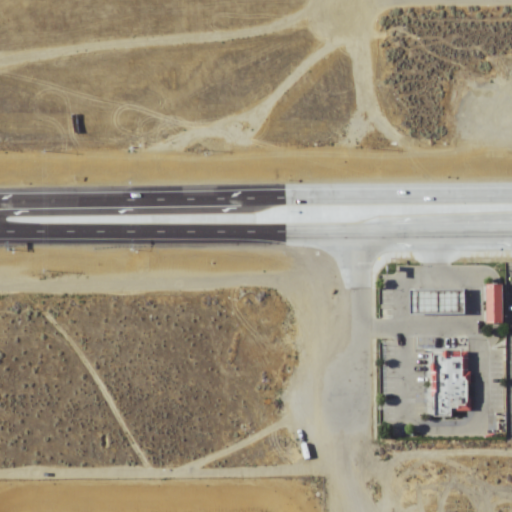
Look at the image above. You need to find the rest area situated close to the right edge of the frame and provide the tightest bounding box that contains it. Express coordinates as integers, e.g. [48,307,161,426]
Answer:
[374,264,506,435]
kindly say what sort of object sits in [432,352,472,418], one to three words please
building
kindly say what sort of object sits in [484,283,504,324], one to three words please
building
